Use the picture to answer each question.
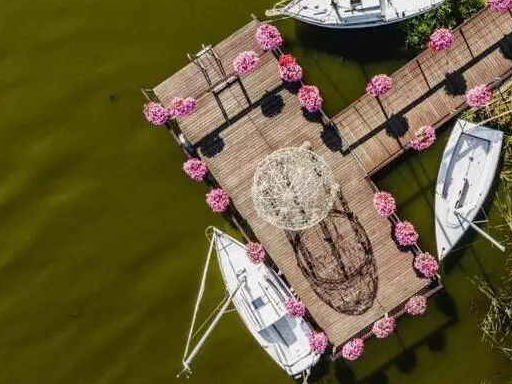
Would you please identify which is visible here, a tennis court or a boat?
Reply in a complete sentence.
Looking from above, you can make out a boat.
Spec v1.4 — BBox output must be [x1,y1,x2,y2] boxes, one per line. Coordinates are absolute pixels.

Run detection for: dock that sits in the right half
[137,4,512,370]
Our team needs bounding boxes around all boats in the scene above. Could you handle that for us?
[171,226,341,381]
[255,0,446,29]
[433,118,503,261]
